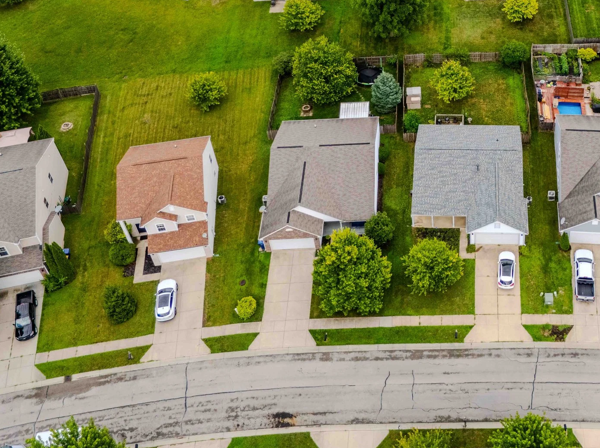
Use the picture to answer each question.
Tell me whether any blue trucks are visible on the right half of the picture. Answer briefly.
No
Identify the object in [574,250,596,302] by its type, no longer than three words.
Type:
truck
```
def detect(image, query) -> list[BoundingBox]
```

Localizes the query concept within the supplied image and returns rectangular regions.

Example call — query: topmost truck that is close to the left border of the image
[12,287,40,344]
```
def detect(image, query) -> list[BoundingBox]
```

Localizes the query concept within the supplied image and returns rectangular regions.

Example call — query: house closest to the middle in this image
[258,119,378,257]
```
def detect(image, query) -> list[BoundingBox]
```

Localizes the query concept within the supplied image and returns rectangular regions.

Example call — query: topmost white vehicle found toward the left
[154,281,180,322]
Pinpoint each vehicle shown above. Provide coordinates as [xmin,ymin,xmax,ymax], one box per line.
[154,281,180,322]
[33,427,59,448]
[12,287,40,344]
[496,251,517,291]
[574,250,596,302]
